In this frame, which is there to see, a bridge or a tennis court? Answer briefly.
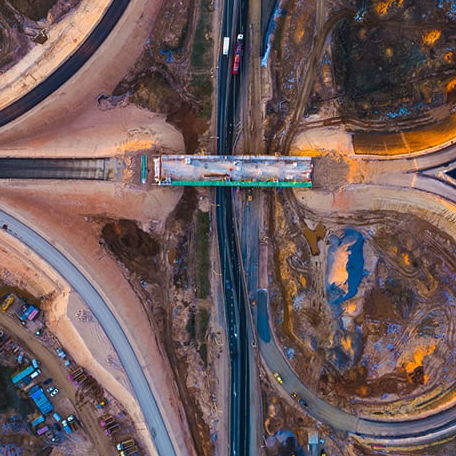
bridge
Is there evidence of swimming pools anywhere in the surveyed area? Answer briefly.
No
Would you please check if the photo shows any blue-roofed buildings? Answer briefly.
Yes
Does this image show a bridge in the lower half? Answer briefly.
No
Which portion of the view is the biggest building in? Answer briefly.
bottom left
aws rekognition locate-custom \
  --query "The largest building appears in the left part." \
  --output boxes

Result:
[31,384,55,414]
